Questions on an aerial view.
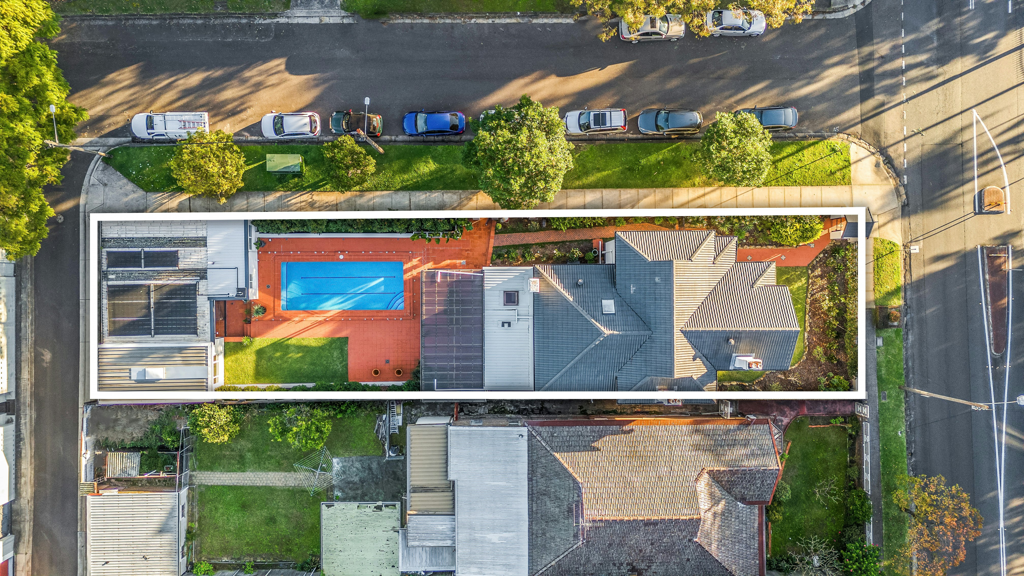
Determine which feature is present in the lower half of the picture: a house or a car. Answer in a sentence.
The feature located in the lower half of the picture is a house.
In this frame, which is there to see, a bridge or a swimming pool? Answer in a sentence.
Visible in the photo is a swimming pool.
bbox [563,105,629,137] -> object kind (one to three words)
car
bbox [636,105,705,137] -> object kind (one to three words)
car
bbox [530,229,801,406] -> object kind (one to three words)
house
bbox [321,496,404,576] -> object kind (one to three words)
shed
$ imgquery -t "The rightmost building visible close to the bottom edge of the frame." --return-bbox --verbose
[525,419,783,576]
